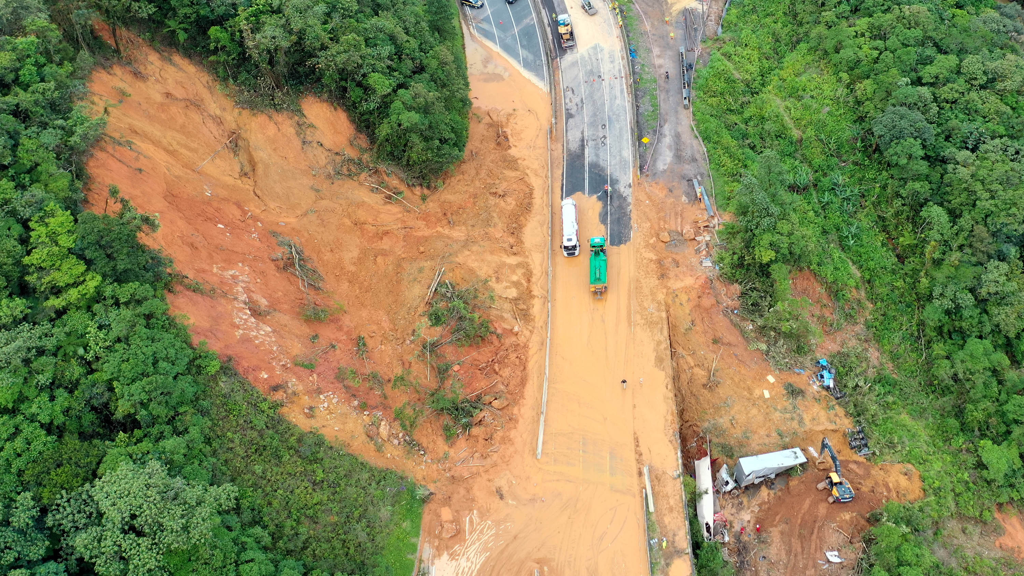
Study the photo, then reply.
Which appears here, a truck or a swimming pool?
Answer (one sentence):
The image shows a truck.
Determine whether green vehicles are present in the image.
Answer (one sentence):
Yes, a green vehicle can be made out from above.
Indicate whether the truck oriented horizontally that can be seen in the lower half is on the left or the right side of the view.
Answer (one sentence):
You can find the truck oriented horizontally that can be seen in the lower half on the right side of the picture.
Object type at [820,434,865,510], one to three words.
work vehicle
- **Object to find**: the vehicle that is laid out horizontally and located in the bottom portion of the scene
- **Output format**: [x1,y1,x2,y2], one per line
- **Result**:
[715,447,806,489]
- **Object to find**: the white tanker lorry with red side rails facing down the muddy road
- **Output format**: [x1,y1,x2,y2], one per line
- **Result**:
[561,199,582,255]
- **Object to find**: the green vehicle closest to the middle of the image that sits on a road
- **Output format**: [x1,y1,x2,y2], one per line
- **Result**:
[587,236,612,304]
